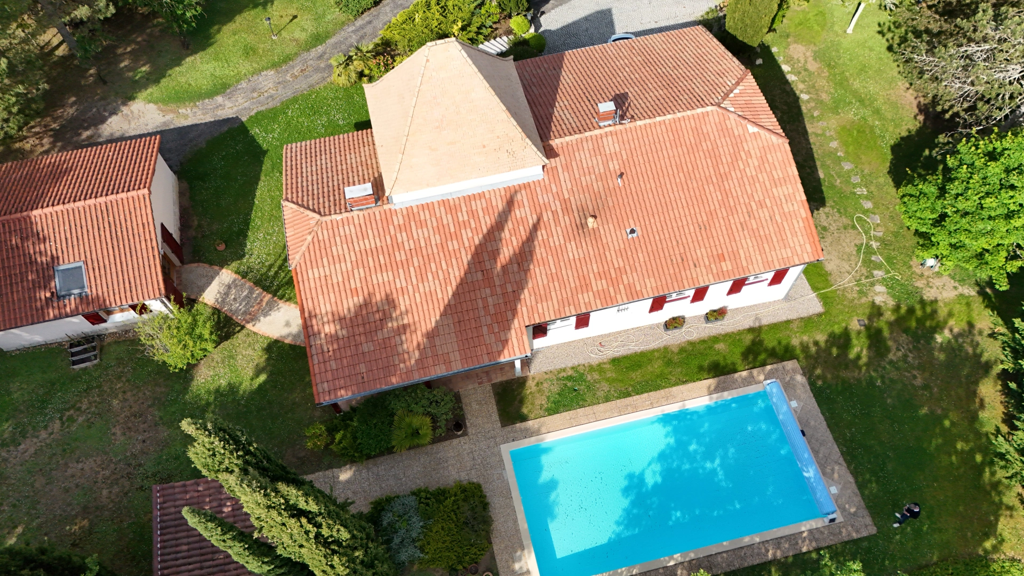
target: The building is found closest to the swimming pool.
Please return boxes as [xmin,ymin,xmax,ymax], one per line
[280,25,824,407]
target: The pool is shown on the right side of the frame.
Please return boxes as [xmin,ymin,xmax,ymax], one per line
[501,383,840,576]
